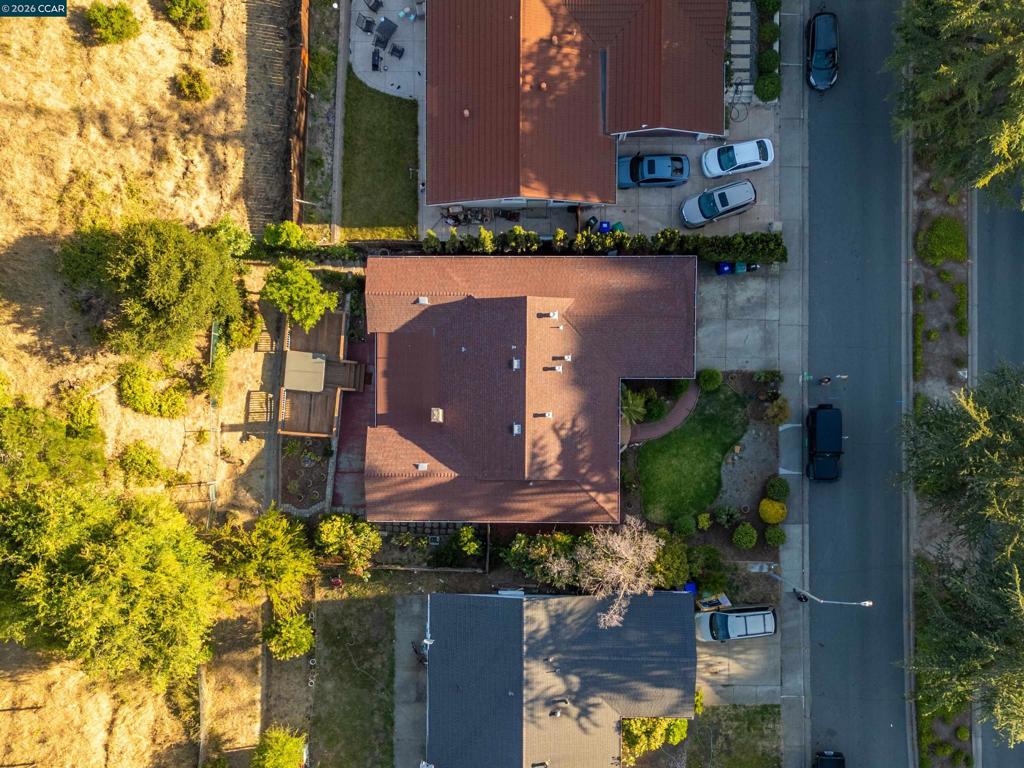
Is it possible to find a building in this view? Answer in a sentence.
Yes, there's a building here.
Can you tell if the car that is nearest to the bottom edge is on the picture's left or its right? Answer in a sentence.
The car that is nearest to the bottom edge is on the right side of the image.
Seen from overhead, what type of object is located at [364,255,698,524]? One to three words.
house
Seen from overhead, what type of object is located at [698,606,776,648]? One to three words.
car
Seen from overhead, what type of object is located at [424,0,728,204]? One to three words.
house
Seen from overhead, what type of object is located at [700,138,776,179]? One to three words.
car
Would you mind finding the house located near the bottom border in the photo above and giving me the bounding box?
[425,584,702,768]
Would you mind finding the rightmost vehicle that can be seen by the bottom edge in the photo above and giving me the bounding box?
[810,747,848,768]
